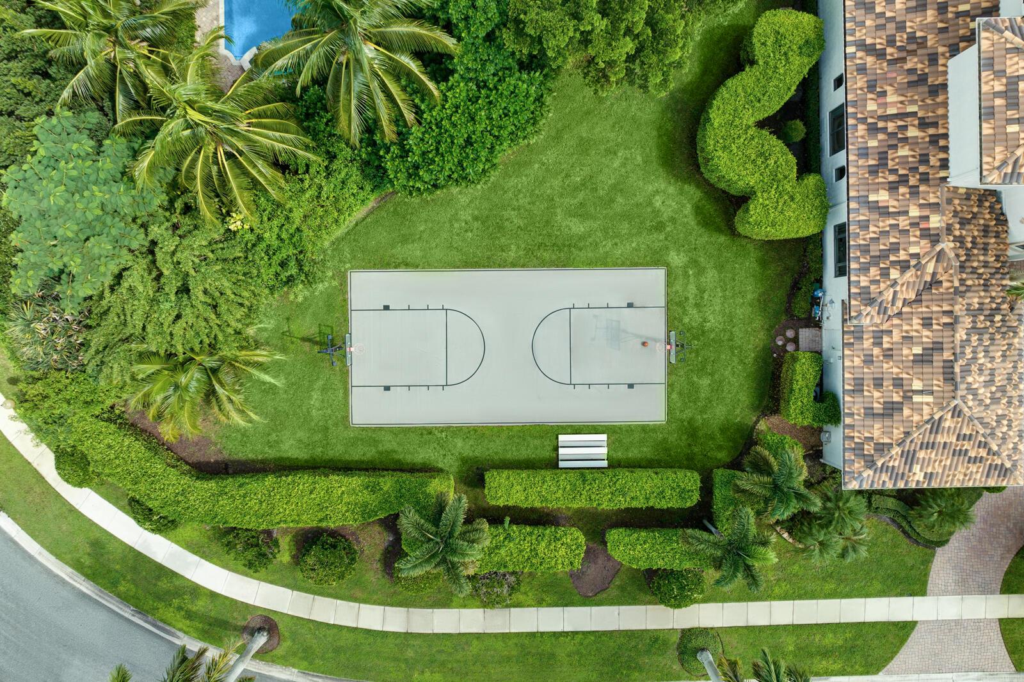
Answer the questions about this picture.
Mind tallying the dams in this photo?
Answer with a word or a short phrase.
0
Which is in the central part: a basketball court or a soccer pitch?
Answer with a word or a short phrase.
basketball court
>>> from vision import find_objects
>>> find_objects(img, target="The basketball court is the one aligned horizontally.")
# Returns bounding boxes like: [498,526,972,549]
[348,267,667,427]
